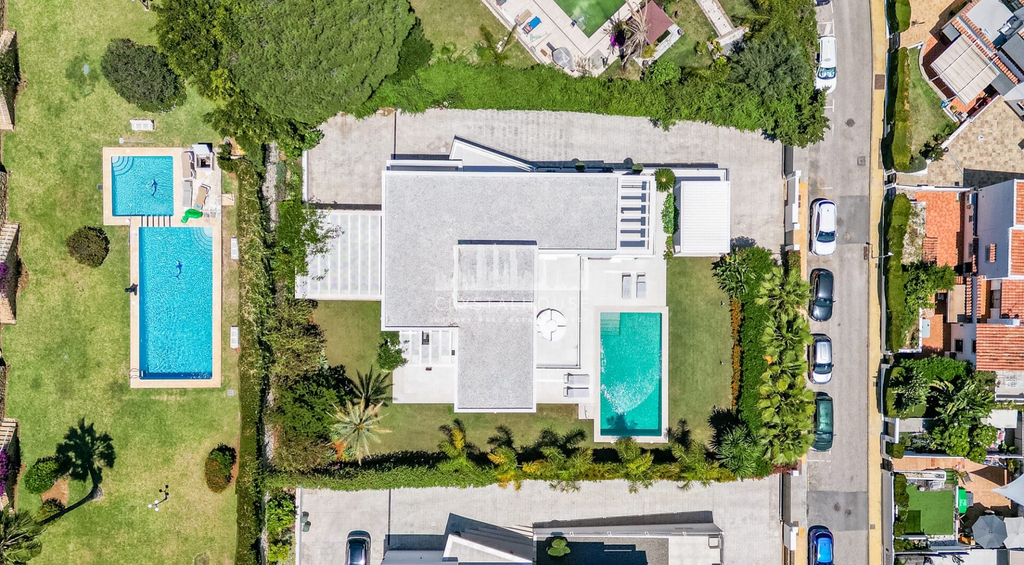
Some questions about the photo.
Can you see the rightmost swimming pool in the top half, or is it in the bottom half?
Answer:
bottom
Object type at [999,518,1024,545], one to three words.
umbrella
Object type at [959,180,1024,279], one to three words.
house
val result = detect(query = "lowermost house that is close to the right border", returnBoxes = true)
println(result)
[941,323,1024,372]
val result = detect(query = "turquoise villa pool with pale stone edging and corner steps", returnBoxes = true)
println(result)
[594,306,668,443]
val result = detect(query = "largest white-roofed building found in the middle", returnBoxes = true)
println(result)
[382,140,656,413]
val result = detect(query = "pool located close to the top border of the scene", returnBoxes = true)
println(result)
[535,0,644,55]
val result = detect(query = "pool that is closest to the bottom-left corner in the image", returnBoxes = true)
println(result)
[129,225,222,388]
